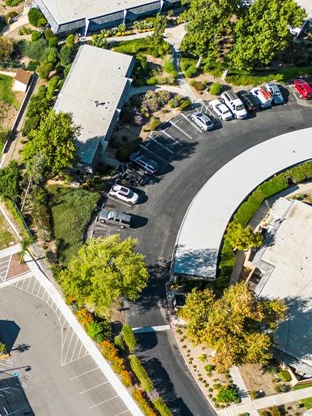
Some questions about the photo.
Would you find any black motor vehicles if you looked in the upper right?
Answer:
Yes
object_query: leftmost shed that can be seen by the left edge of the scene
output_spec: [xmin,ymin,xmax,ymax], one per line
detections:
[11,68,35,91]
